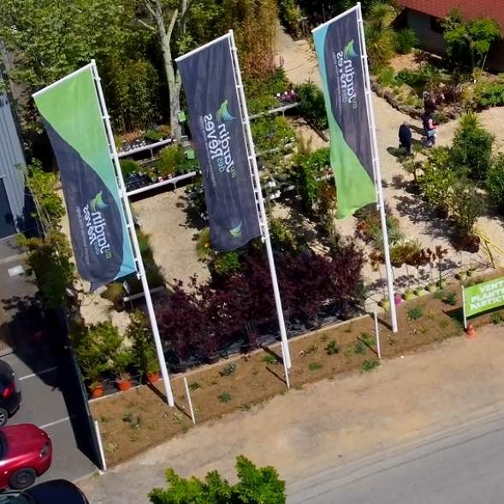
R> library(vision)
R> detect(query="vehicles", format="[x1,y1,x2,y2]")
[0,430,49,485]
[0,359,29,429]
[0,478,89,504]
